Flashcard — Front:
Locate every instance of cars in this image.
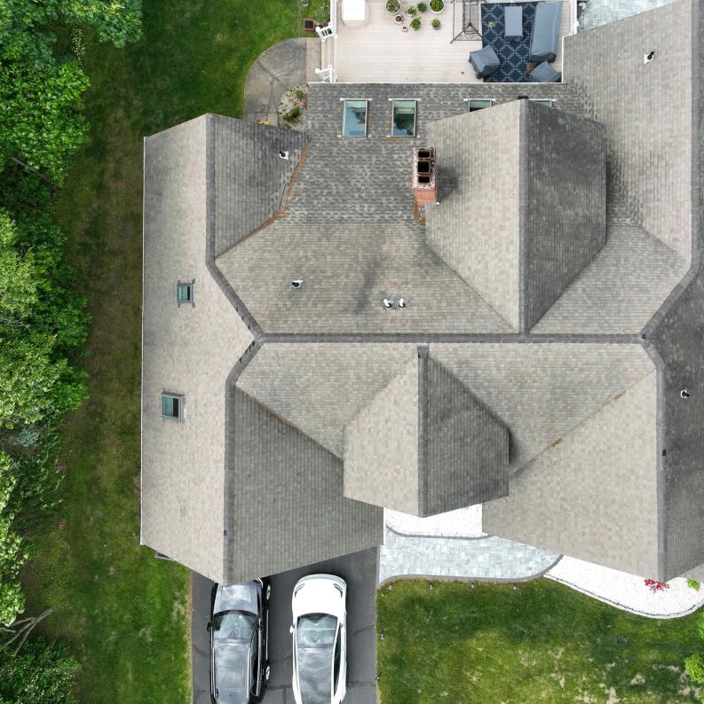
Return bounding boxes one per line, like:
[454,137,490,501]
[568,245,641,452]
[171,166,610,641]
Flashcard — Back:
[287,569,348,704]
[203,574,270,704]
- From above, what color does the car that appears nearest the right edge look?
white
